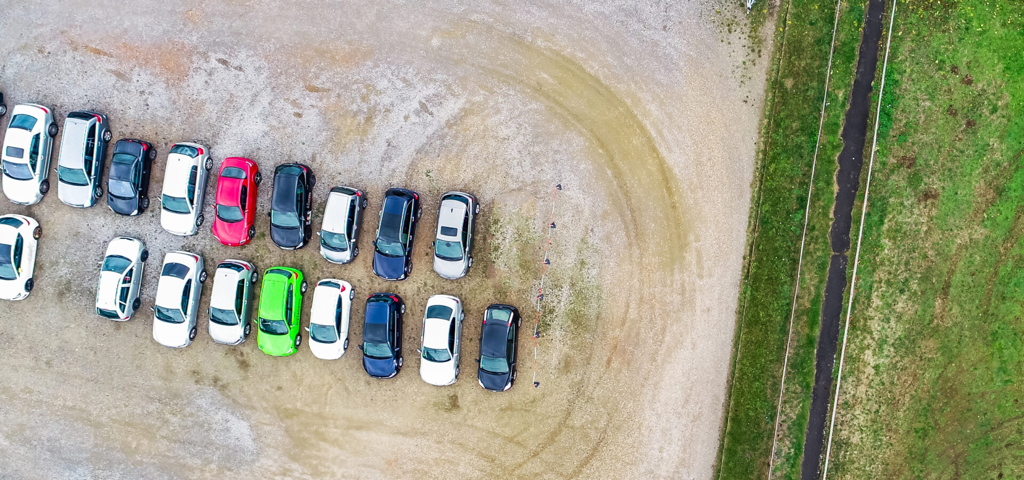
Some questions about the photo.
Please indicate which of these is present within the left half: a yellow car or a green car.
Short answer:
green car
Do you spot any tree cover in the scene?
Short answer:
No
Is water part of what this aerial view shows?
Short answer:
No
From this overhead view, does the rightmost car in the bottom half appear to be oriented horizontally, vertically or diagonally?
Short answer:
vertically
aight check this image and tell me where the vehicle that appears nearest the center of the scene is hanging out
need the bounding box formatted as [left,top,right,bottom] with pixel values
[427,190,480,280]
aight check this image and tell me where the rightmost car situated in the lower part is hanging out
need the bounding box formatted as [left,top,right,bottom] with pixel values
[472,304,522,393]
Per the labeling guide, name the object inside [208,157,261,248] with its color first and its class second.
red car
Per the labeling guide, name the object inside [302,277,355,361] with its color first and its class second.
white car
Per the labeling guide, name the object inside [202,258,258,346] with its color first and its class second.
white car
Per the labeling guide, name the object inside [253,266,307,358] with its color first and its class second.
green car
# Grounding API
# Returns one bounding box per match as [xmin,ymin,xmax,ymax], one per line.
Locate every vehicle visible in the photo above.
[413,294,465,388]
[94,235,148,323]
[154,140,212,237]
[263,161,316,251]
[101,137,156,217]
[368,188,422,283]
[208,157,261,248]
[427,190,480,280]
[0,104,58,205]
[356,292,406,380]
[253,266,307,358]
[472,304,522,393]
[202,258,258,346]
[313,184,367,266]
[0,213,42,302]
[302,277,355,361]
[50,109,111,209]
[148,250,207,349]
